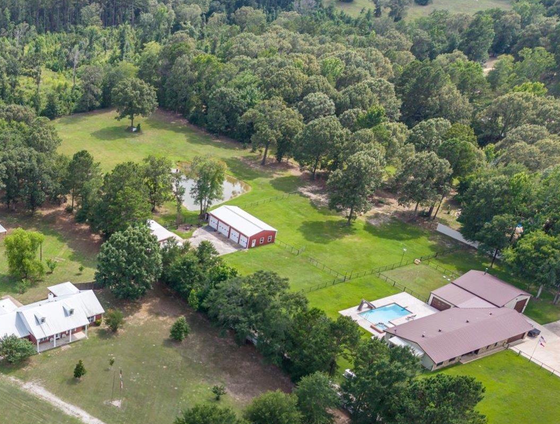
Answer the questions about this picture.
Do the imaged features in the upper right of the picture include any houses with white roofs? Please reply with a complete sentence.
No, there's no house with a white roof to be seen in the upper right of the picture.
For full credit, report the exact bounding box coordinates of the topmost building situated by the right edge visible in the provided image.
[428,267,535,315]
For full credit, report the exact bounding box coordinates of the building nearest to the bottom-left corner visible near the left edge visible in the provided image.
[0,282,106,353]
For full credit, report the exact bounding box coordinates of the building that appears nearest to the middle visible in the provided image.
[209,205,277,248]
